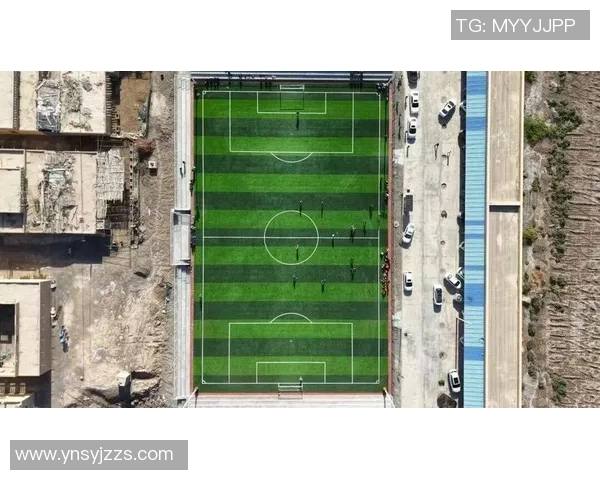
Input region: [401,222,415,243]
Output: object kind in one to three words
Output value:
car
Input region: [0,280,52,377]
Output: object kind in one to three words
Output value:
house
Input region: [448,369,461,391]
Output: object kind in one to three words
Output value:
vehicle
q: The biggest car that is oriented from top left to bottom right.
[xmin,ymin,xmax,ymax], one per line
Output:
[442,272,462,289]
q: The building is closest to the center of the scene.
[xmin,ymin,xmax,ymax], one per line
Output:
[172,208,192,264]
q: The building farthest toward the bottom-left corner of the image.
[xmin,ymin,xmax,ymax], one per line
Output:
[0,389,42,471]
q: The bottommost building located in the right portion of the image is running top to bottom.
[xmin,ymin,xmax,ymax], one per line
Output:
[488,210,524,480]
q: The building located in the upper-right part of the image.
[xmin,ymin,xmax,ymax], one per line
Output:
[482,0,524,210]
